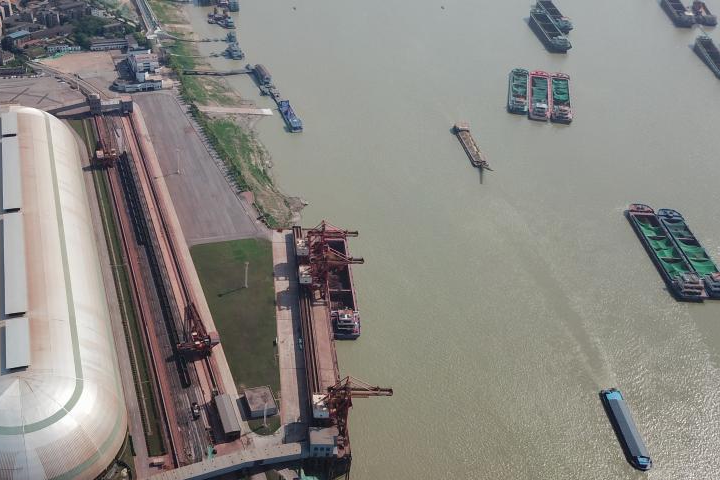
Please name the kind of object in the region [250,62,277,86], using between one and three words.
pier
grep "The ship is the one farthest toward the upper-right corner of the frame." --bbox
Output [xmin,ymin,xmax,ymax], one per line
[690,0,716,27]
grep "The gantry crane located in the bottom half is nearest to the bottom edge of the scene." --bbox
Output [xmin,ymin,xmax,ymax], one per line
[313,373,393,430]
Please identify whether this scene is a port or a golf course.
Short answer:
port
